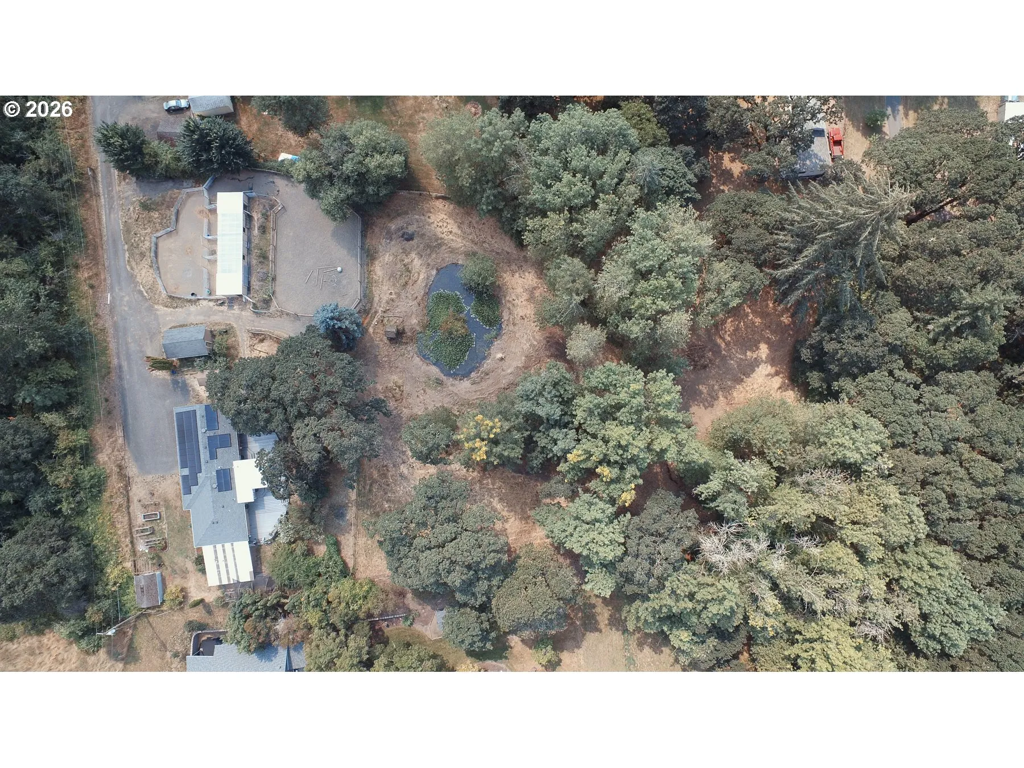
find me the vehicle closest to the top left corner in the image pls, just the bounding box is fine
[163,98,189,112]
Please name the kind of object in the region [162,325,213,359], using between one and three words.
building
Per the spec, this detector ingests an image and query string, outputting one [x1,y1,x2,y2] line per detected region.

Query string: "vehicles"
[828,126,844,158]
[163,98,189,112]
